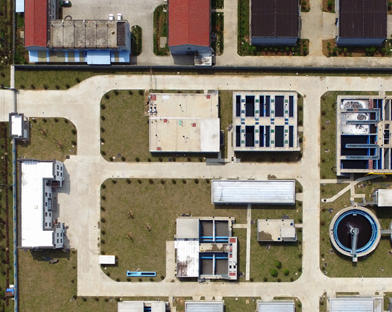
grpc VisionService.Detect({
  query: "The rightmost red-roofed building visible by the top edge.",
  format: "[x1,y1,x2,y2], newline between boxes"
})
[169,0,212,67]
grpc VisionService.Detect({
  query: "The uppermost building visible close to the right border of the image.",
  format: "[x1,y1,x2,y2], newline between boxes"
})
[334,0,389,45]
